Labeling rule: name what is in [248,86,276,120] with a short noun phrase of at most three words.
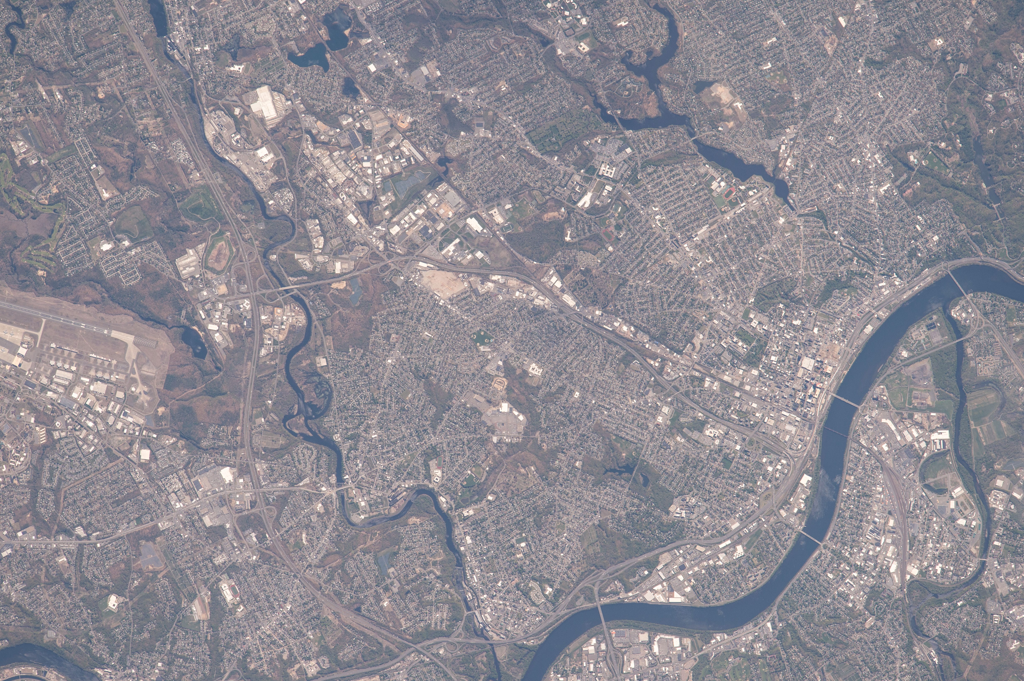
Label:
shed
